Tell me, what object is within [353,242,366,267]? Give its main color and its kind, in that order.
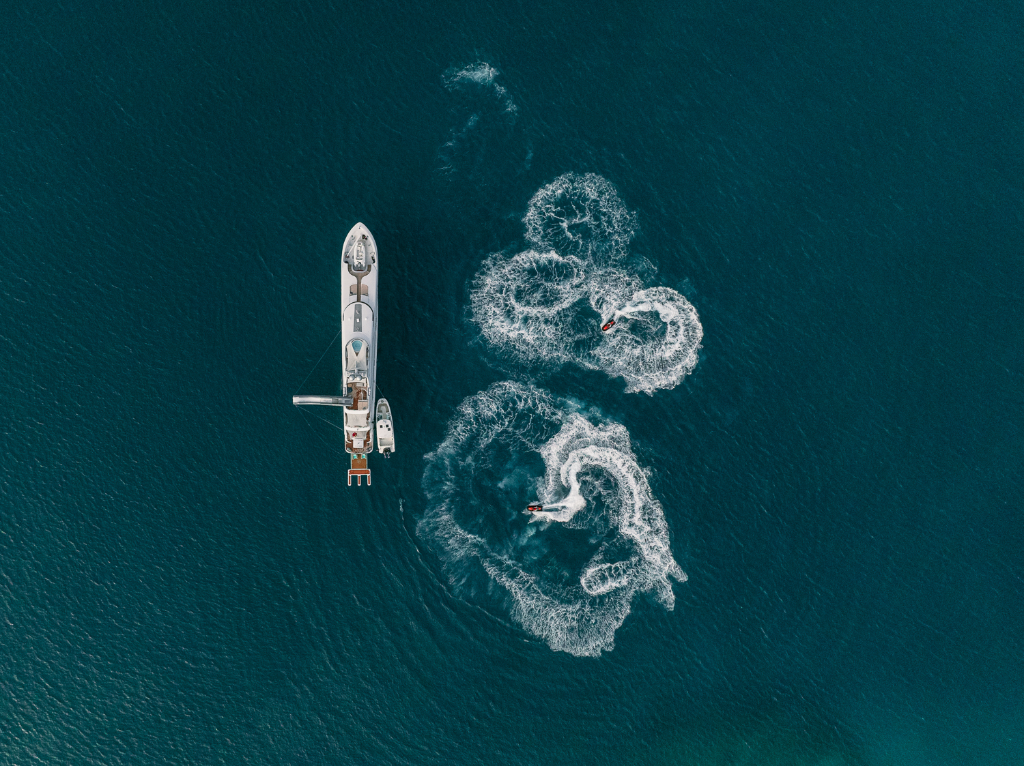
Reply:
white boat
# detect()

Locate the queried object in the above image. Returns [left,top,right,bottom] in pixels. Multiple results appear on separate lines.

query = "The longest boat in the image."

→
[342,222,380,453]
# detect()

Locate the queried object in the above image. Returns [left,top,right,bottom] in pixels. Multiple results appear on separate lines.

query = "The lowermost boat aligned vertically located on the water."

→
[376,398,395,458]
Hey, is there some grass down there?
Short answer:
No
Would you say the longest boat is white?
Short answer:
Yes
